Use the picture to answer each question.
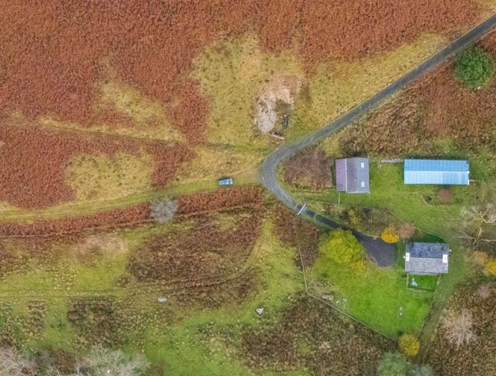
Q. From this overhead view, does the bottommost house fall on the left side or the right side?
right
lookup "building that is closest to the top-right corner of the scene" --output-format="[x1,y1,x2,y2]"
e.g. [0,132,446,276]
[404,159,470,186]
